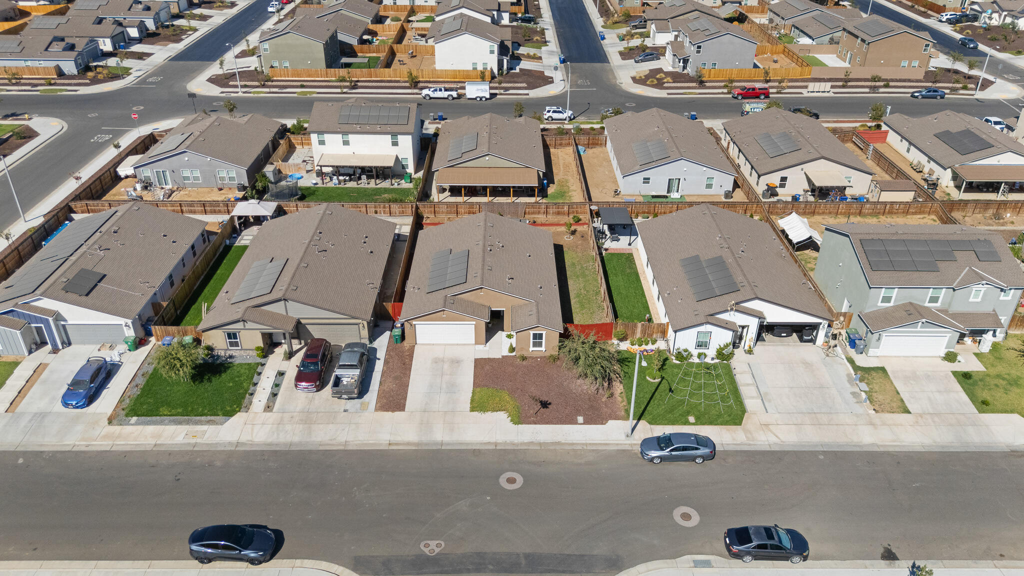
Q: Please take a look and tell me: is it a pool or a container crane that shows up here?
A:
pool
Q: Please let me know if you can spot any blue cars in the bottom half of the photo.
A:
Yes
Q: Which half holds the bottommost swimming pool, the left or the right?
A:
left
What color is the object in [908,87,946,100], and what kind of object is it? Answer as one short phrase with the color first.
blue vehicle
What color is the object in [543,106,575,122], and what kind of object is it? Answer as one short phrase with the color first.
white car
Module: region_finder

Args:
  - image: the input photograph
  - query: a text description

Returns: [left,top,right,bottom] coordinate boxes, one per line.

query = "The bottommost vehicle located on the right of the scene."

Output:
[721,525,810,565]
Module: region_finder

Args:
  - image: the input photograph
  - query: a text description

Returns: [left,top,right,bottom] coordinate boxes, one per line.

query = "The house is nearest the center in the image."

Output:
[398,210,564,359]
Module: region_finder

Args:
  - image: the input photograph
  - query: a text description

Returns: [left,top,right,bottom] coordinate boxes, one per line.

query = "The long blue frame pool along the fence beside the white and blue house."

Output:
[28,222,69,260]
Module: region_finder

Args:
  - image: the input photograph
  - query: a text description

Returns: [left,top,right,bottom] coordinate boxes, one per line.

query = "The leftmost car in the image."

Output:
[57,356,114,409]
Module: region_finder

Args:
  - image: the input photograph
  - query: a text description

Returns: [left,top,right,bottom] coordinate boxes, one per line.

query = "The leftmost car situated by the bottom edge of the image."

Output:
[187,524,280,566]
